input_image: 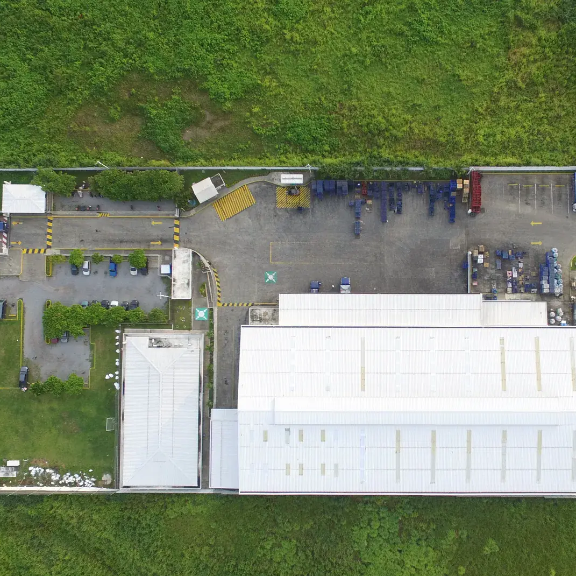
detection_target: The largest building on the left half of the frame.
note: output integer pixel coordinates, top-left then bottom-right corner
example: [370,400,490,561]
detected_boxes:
[121,329,208,488]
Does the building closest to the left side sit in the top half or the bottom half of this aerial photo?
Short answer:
top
